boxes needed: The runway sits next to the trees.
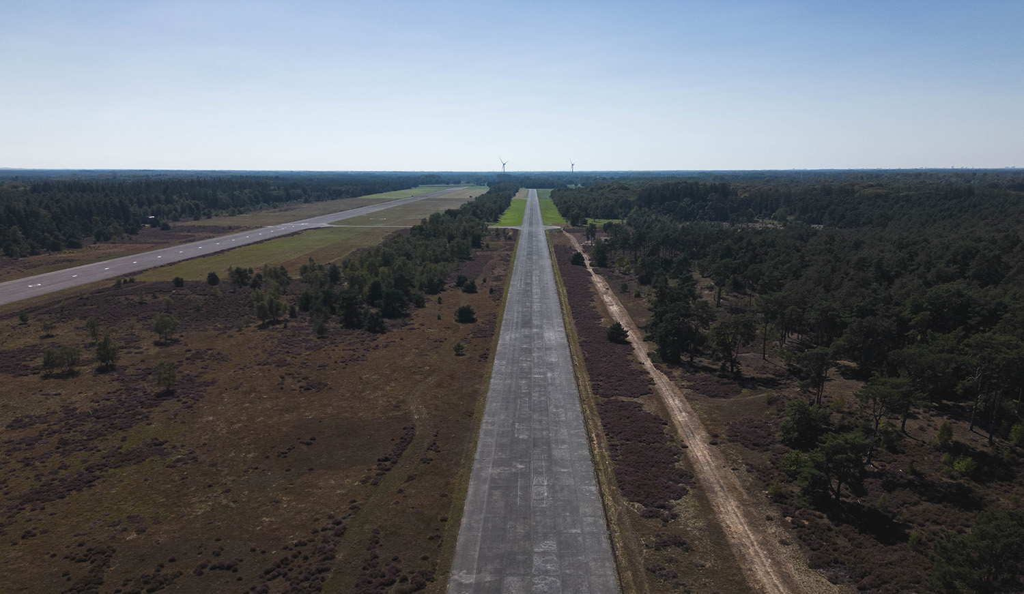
[0,187,465,305]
